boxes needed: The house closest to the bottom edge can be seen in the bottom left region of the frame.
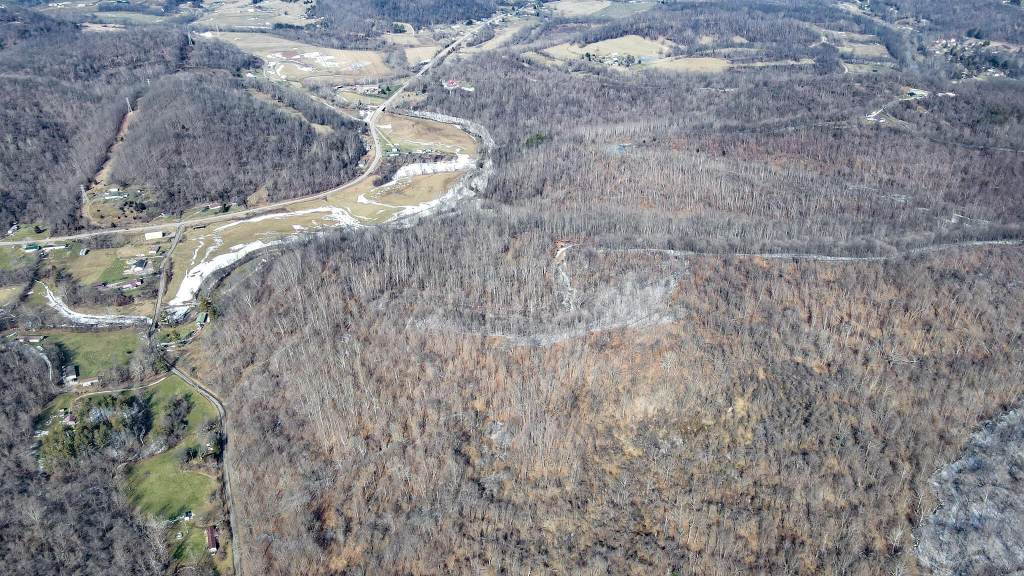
[203,527,220,556]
